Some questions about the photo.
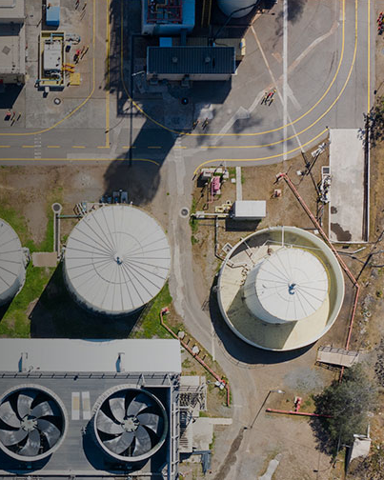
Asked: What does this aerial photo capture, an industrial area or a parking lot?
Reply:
industrial area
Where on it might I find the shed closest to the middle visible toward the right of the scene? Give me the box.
[233,200,266,219]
